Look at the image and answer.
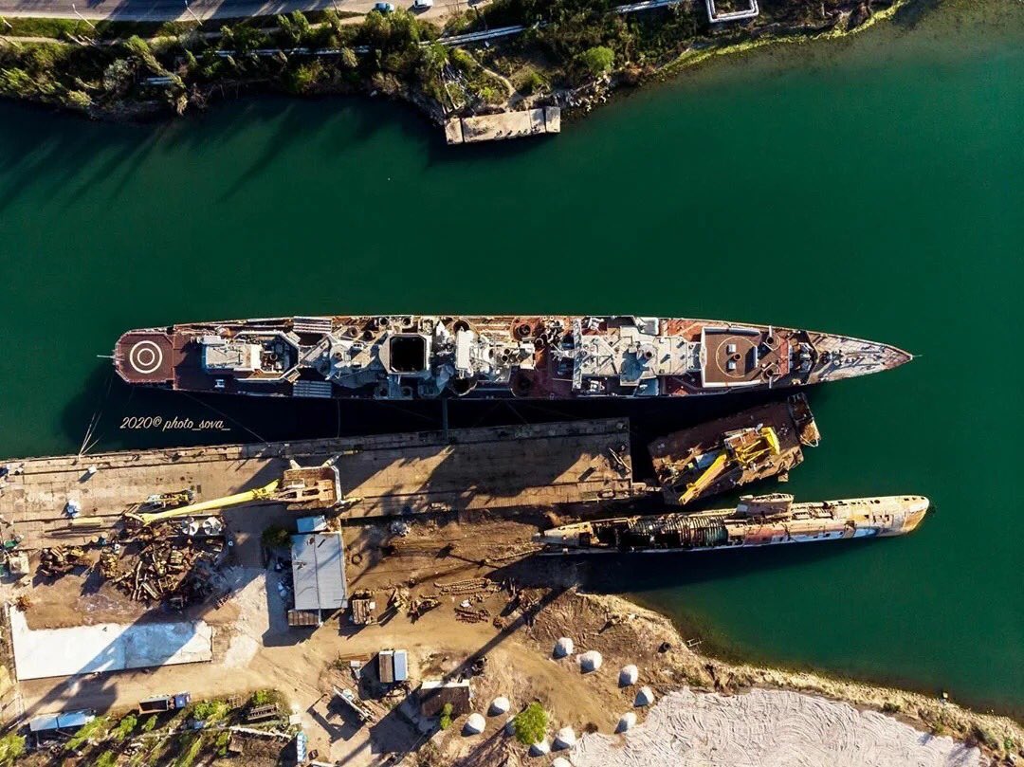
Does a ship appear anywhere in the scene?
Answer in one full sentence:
Yes, a ship is visible in the scene.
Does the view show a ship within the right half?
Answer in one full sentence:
Yes, looking within the right half, one can make out a ship.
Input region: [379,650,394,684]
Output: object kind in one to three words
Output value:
shed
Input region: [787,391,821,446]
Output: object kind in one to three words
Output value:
ship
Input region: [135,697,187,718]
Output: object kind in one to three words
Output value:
truck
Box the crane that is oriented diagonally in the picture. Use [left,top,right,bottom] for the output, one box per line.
[656,424,780,503]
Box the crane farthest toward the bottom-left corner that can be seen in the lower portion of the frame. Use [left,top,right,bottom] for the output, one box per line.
[125,450,373,523]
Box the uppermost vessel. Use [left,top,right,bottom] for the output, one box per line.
[98,314,920,399]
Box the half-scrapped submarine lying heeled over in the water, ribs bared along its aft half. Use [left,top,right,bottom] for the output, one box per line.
[537,498,932,555]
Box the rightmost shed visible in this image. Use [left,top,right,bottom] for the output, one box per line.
[421,675,471,717]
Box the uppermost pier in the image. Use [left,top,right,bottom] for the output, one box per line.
[445,105,560,147]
